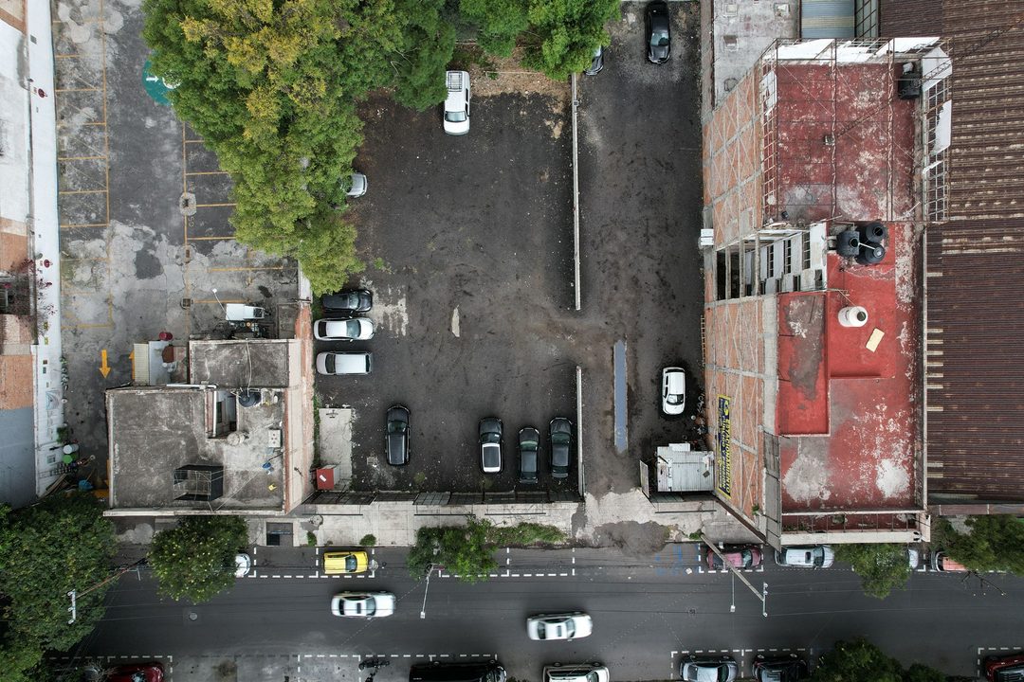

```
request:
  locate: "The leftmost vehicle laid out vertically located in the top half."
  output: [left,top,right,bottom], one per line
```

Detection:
[441,69,471,137]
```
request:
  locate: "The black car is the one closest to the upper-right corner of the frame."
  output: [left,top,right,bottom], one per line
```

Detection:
[645,8,673,66]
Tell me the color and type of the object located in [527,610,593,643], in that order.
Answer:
white car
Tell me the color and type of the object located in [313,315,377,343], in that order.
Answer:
white car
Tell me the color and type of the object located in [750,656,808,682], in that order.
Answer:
black car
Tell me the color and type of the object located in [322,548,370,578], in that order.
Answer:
yellow car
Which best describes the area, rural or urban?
urban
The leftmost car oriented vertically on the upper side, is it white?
Yes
